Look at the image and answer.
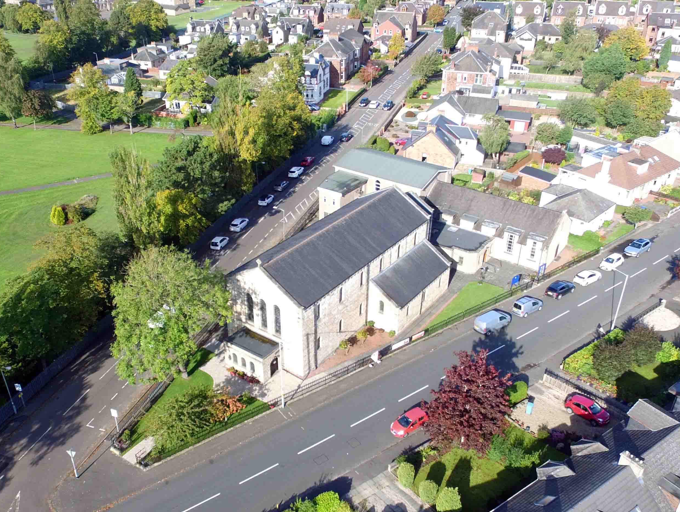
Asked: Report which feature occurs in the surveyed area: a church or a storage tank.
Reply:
church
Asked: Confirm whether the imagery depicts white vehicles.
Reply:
Yes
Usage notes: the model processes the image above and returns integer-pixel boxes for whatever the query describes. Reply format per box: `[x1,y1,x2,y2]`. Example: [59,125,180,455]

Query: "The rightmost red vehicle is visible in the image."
[566,392,610,422]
